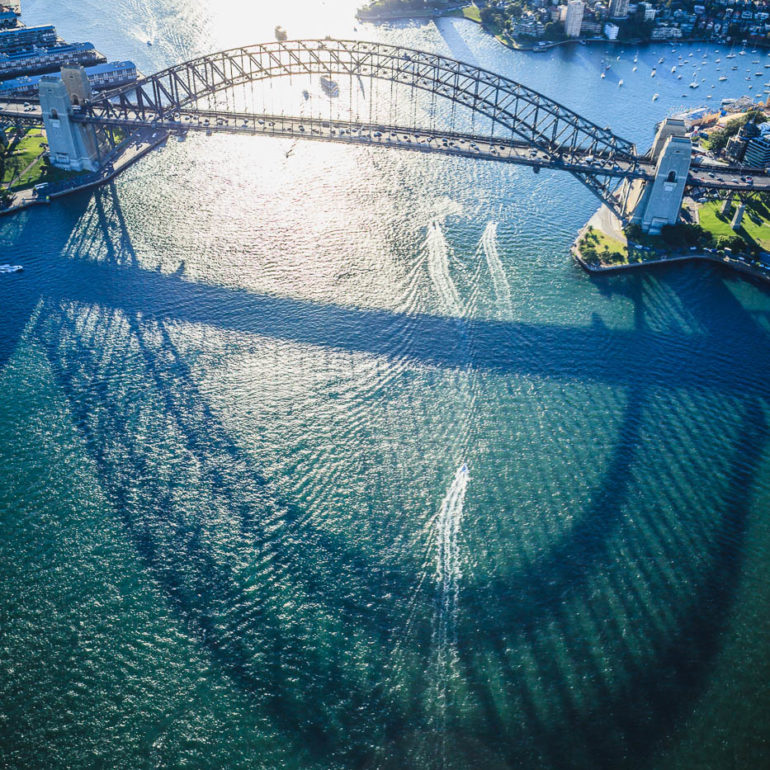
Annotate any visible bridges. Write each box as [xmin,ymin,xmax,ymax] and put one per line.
[0,37,770,238]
